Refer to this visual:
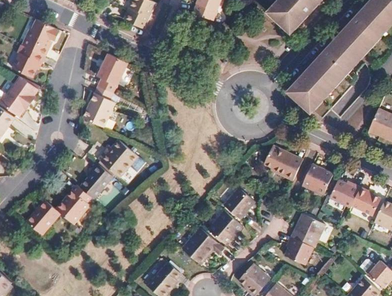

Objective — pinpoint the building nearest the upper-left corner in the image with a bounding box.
[12,18,58,78]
